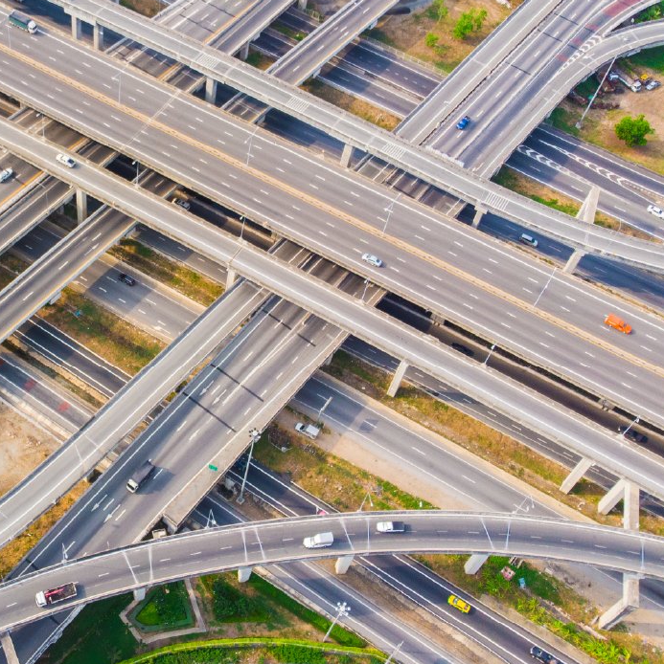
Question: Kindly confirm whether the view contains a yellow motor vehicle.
Yes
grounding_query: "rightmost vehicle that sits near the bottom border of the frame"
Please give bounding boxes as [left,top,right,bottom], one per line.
[531,647,560,664]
